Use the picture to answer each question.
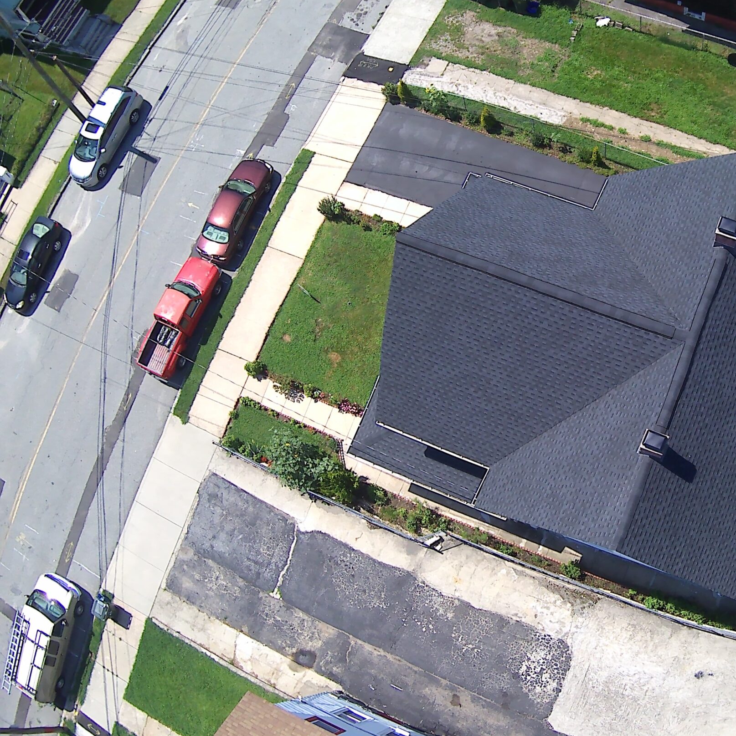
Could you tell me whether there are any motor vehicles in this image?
Yes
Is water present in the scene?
No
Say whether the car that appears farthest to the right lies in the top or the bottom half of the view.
top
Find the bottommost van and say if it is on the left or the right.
left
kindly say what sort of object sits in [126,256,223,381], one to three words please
truck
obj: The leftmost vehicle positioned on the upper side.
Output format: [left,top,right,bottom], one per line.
[0,218,69,311]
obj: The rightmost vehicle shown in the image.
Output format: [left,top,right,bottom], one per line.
[190,158,277,267]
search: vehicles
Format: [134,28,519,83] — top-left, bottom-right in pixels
[126,256,223,381]
[0,578,88,709]
[64,81,146,188]
[190,158,277,267]
[0,218,69,311]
